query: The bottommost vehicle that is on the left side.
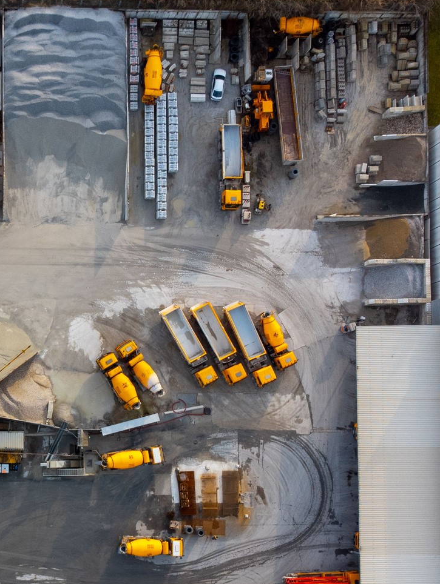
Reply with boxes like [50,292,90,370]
[114,535,185,559]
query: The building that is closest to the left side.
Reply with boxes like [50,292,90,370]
[0,432,24,450]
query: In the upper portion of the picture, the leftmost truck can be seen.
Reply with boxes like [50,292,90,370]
[139,40,164,111]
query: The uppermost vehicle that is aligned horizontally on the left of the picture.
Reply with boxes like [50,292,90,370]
[96,441,167,469]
